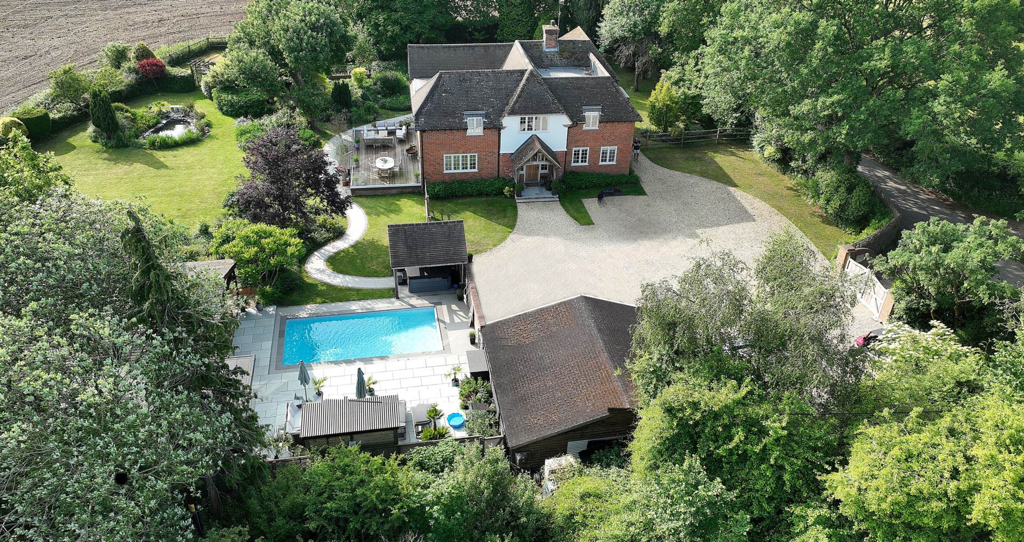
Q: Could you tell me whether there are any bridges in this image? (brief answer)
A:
No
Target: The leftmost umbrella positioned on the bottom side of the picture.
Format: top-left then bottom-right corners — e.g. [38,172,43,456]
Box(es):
[296,358,311,395]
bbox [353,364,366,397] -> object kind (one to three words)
umbrella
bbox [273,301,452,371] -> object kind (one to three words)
swimming pool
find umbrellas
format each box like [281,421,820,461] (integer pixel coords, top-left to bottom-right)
[296,358,311,395]
[353,364,366,397]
